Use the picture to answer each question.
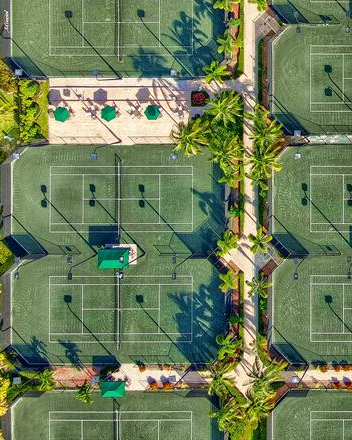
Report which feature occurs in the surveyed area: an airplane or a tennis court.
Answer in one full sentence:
Visible in the photo is a tennis court.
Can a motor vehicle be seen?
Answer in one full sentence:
No, I find no motor vehicle anywhere in the image.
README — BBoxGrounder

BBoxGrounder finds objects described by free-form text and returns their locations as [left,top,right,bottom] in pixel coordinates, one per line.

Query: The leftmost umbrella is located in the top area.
[53,106,71,121]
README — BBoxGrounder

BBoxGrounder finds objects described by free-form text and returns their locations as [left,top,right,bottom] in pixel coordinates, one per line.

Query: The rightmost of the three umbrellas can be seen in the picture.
[144,105,161,120]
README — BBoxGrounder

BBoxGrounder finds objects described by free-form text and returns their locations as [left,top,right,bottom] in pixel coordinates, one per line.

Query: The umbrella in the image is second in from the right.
[100,106,117,121]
